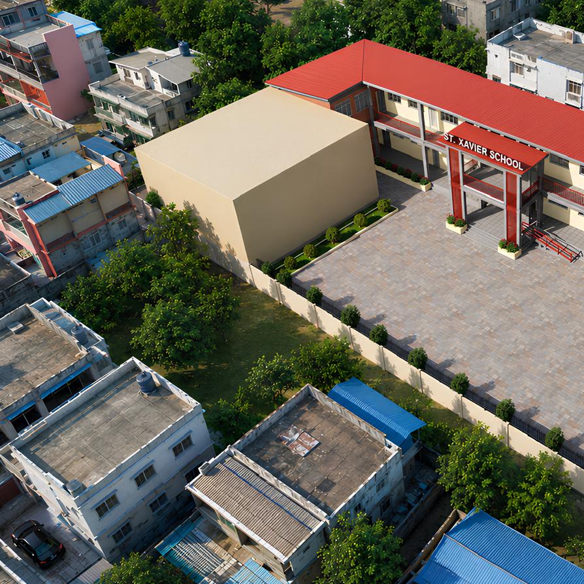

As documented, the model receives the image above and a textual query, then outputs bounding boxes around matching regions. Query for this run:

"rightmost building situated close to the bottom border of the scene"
[400,507,584,584]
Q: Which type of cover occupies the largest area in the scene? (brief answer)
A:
buildings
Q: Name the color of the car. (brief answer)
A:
black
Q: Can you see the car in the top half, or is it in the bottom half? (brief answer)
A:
bottom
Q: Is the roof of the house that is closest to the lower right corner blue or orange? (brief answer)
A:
blue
